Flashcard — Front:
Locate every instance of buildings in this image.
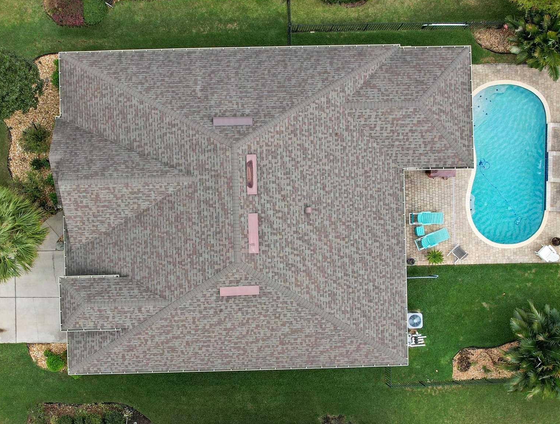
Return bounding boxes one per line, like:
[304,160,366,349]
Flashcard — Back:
[49,42,476,378]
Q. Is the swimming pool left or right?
right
